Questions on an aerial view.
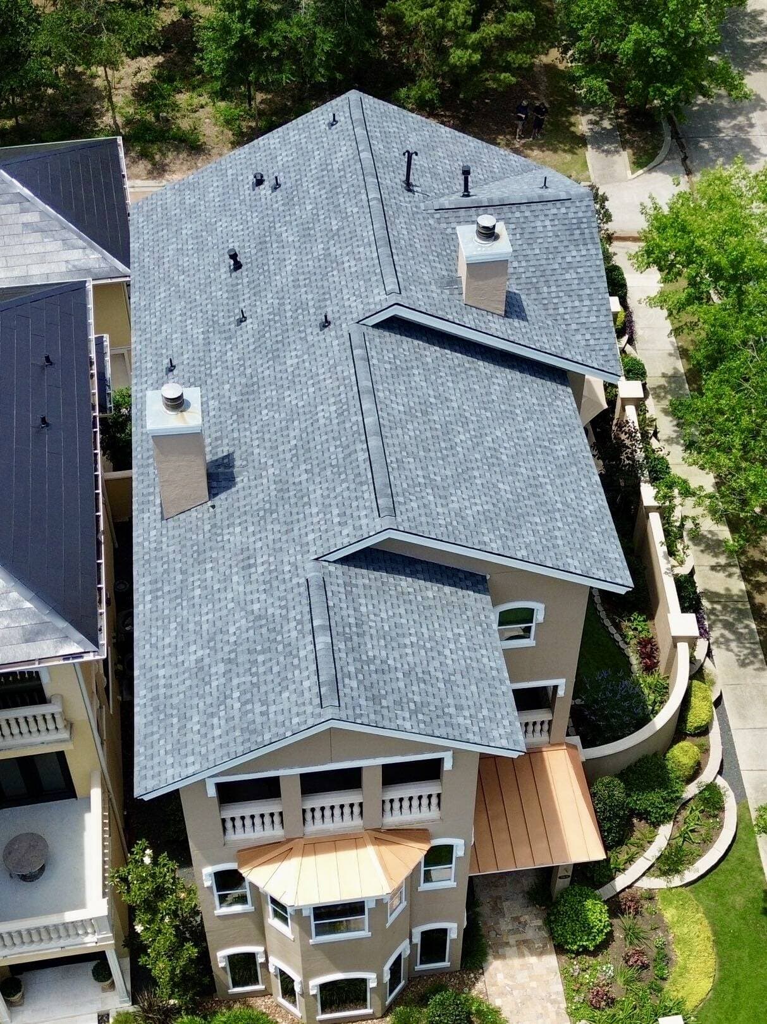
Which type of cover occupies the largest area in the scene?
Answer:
buildings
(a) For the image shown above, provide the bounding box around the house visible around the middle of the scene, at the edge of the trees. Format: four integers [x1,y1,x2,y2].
[131,88,636,1022]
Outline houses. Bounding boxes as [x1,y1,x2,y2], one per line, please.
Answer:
[131,88,636,1022]
[0,280,136,1024]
